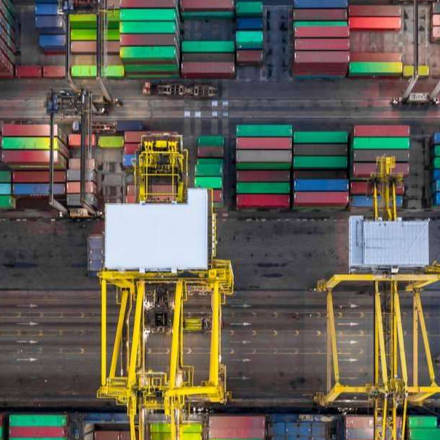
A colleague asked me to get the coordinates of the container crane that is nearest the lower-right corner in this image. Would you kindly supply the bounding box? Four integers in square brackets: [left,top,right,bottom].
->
[306,152,440,440]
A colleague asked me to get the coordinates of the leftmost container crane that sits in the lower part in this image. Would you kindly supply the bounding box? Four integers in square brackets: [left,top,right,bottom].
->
[96,127,244,440]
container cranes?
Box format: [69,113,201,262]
[40,88,108,215]
[392,0,440,105]
[96,127,244,440]
[306,152,440,440]
[57,0,123,105]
